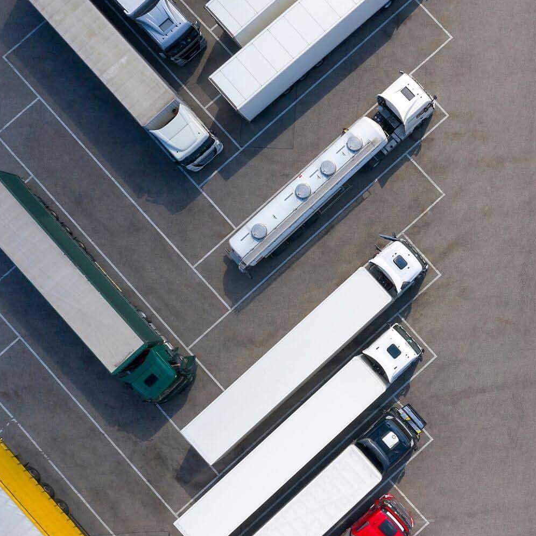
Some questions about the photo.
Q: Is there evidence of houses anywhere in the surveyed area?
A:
No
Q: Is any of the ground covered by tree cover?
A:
No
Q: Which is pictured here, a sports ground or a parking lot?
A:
parking lot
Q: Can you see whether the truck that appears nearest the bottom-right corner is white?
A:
No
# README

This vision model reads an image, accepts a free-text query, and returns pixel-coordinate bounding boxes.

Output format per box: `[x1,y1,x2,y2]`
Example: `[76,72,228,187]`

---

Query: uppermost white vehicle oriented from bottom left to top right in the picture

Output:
[209,0,392,123]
